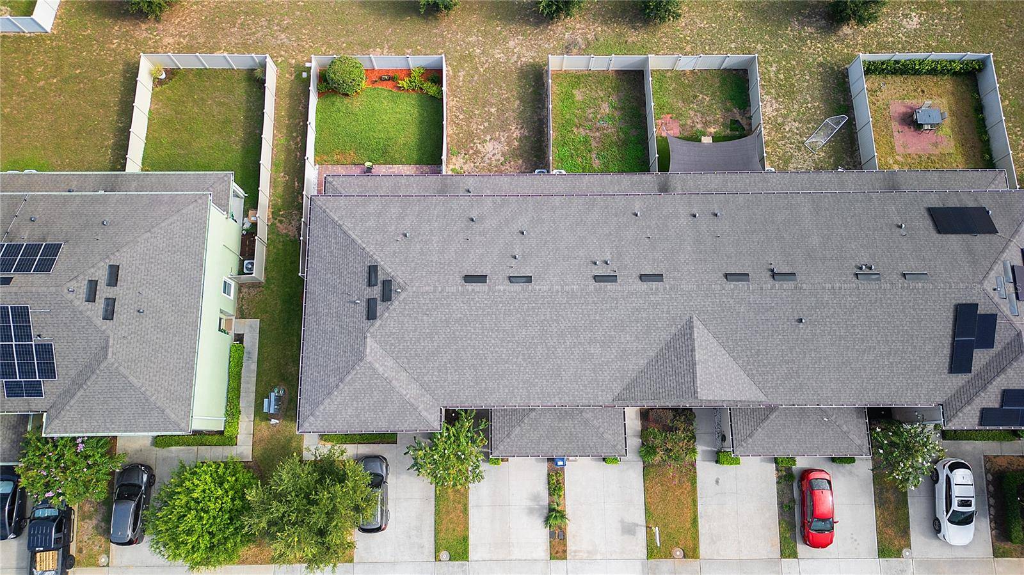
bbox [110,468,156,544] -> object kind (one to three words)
car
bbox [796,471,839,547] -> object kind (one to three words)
car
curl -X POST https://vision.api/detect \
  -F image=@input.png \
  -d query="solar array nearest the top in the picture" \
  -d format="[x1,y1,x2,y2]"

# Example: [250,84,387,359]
[935,206,991,233]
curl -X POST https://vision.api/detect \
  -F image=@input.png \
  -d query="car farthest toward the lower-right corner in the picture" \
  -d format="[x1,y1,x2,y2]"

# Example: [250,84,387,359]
[928,459,976,544]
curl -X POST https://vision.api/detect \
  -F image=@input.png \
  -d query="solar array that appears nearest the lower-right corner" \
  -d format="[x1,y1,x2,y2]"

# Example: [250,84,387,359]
[979,390,1024,427]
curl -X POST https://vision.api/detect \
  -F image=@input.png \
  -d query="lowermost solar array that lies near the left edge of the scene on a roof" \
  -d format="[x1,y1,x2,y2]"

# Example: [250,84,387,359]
[0,306,59,399]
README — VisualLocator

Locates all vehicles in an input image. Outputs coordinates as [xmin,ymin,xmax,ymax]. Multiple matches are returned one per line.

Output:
[110,468,156,544]
[25,482,79,575]
[0,467,28,542]
[796,471,839,547]
[928,459,976,544]
[354,457,390,531]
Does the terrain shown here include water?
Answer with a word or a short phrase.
No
